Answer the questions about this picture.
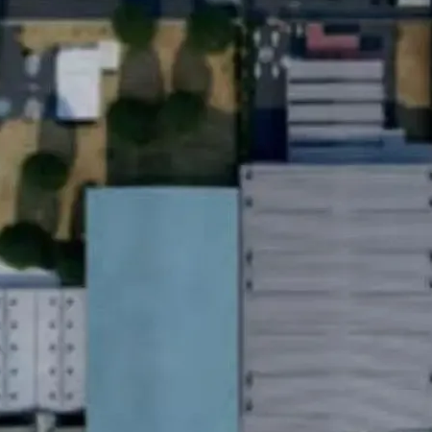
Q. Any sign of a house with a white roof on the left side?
Yes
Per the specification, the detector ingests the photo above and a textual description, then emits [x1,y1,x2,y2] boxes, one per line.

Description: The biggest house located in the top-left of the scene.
[56,48,101,123]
